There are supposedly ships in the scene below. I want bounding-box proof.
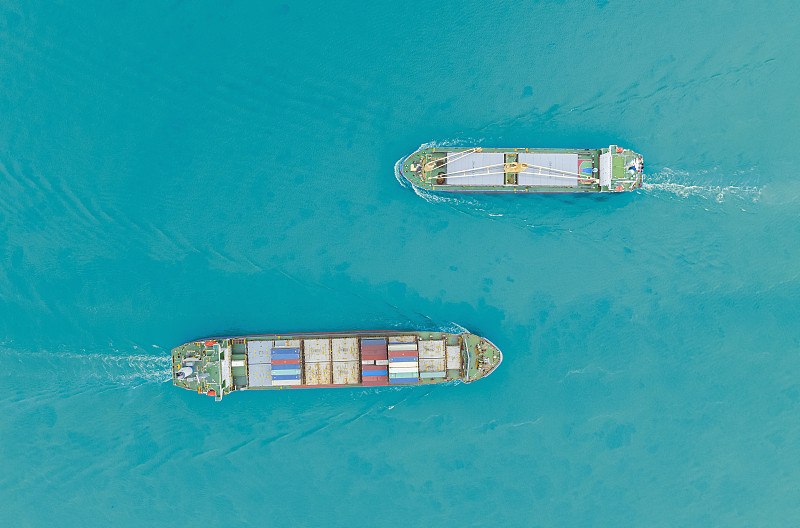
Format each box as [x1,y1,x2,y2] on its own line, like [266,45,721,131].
[171,330,503,401]
[401,144,645,194]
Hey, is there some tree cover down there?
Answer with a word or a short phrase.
No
